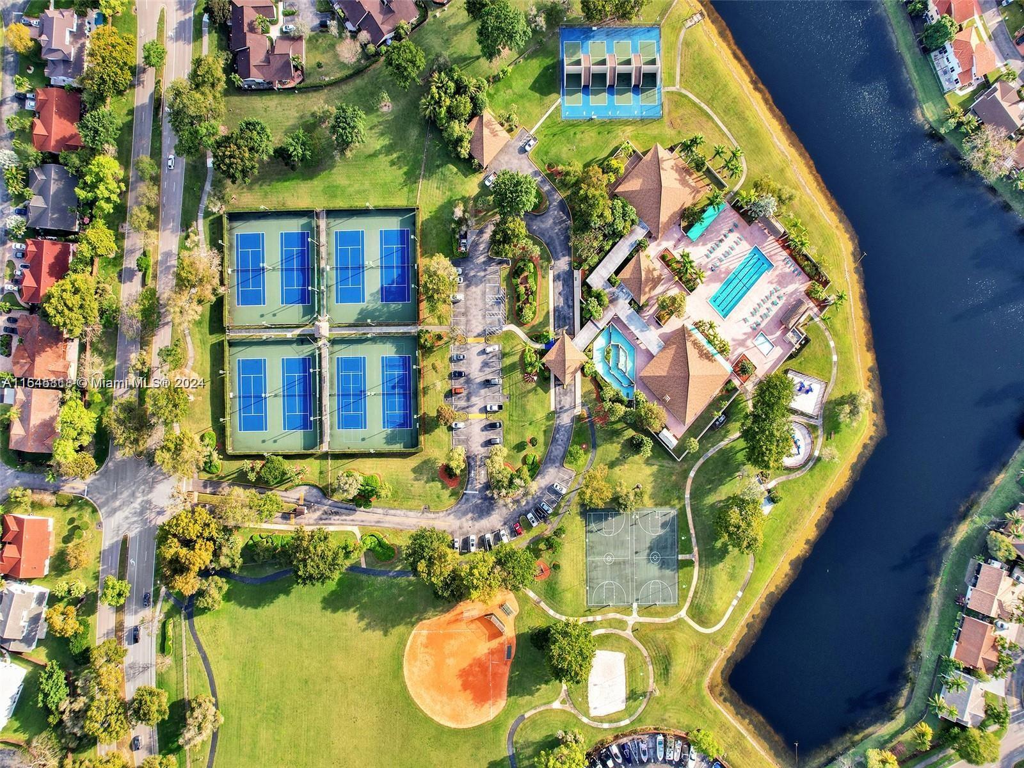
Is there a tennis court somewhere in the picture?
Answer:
Yes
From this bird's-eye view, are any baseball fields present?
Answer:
Yes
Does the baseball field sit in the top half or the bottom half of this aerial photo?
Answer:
bottom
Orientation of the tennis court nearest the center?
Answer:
from top to bottom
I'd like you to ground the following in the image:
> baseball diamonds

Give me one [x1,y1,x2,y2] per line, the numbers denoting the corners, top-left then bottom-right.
[403,590,519,728]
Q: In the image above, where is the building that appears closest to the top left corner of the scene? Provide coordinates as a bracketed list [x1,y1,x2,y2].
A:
[31,8,89,80]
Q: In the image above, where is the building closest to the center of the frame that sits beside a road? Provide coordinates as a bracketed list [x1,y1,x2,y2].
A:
[543,333,588,385]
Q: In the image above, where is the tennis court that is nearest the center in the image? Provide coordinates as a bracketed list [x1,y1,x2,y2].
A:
[381,348,415,440]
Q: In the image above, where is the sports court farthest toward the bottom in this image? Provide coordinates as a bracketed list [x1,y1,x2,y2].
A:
[588,650,627,717]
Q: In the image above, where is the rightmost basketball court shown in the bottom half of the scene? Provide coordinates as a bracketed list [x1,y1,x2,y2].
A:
[634,511,677,604]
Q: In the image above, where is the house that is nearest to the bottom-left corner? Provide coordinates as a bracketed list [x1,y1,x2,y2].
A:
[0,649,36,735]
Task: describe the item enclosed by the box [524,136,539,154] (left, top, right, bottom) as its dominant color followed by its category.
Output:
white vehicle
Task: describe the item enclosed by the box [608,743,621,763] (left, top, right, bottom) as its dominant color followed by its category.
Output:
white boat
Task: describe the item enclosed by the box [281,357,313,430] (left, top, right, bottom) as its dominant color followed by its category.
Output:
blue tennis court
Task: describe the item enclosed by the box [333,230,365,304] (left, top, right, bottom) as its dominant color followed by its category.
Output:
blue tennis court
